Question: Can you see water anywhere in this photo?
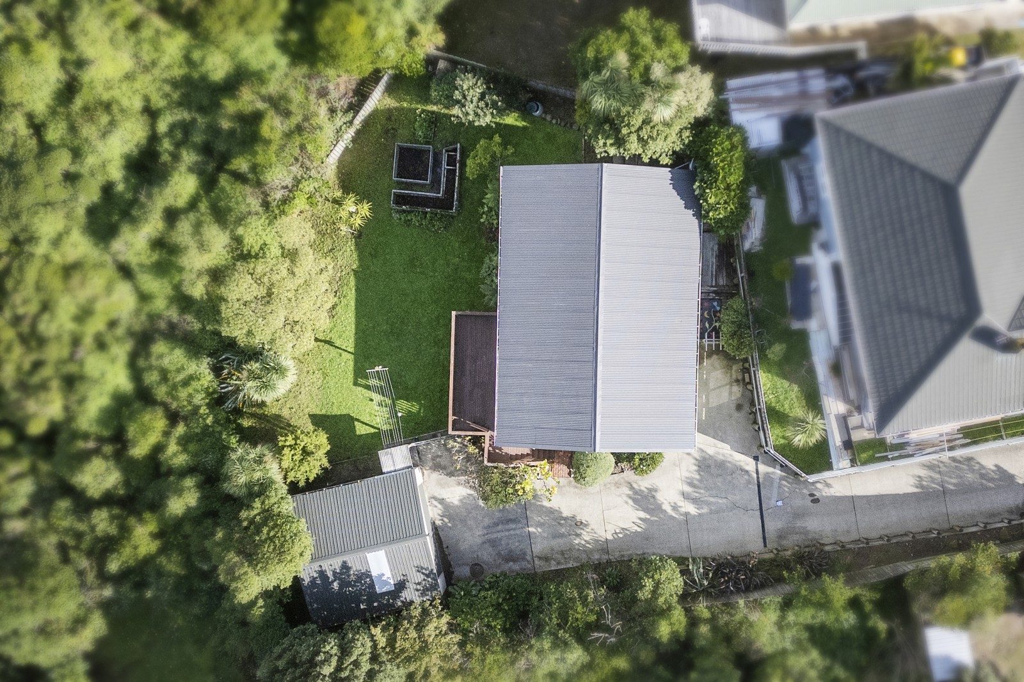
No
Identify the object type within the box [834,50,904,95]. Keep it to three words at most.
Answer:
trailer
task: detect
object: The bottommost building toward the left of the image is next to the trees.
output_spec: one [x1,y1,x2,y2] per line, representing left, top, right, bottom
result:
[290,463,445,626]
